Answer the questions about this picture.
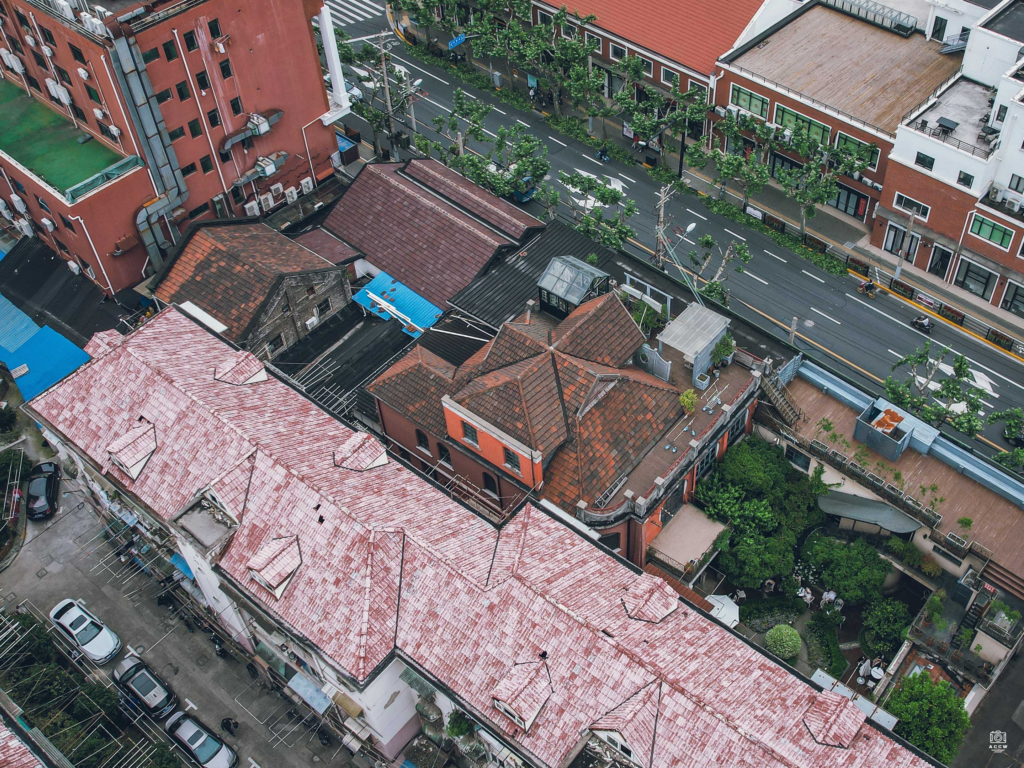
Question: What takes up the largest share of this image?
buildings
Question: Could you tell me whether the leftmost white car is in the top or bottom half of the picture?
bottom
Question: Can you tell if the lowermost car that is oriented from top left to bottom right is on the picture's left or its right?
left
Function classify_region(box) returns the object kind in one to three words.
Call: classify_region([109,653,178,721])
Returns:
car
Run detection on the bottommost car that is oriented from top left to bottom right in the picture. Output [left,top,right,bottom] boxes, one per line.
[161,704,239,768]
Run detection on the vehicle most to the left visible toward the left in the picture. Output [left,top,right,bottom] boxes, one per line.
[21,462,61,525]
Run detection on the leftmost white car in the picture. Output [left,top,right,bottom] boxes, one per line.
[50,593,119,665]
